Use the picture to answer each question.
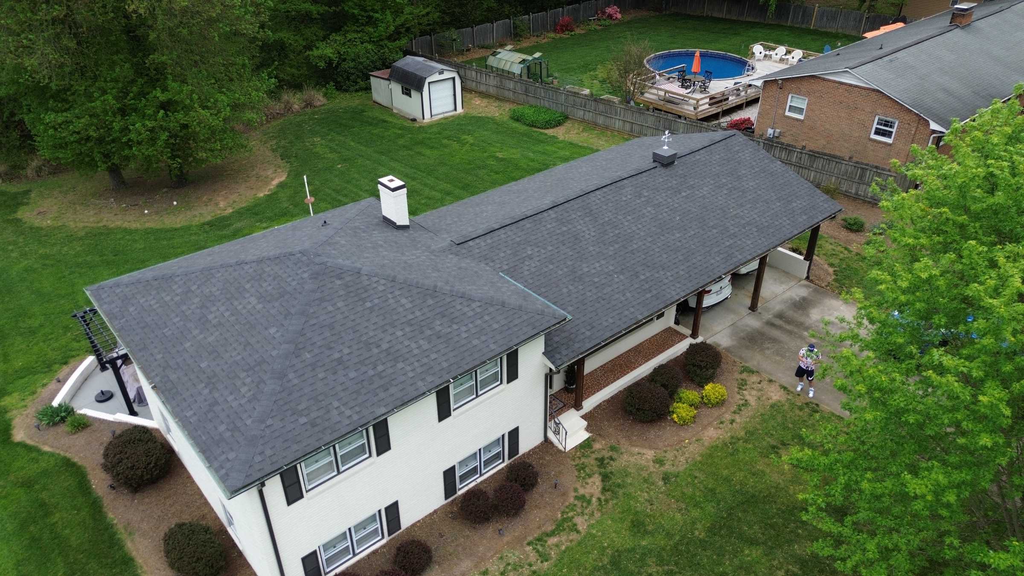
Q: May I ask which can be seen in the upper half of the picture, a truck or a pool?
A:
pool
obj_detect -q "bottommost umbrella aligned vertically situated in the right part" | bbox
[689,48,701,76]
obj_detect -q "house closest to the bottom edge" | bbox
[82,126,846,576]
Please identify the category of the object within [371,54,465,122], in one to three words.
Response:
shed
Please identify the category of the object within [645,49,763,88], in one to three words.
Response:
swimming pool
